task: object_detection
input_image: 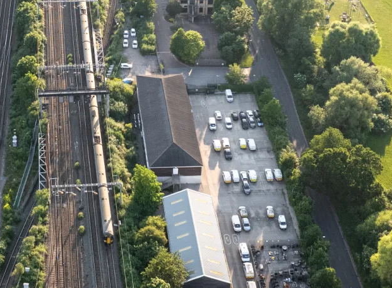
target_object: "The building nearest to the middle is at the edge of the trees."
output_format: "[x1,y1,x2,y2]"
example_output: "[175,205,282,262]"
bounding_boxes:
[135,72,204,186]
